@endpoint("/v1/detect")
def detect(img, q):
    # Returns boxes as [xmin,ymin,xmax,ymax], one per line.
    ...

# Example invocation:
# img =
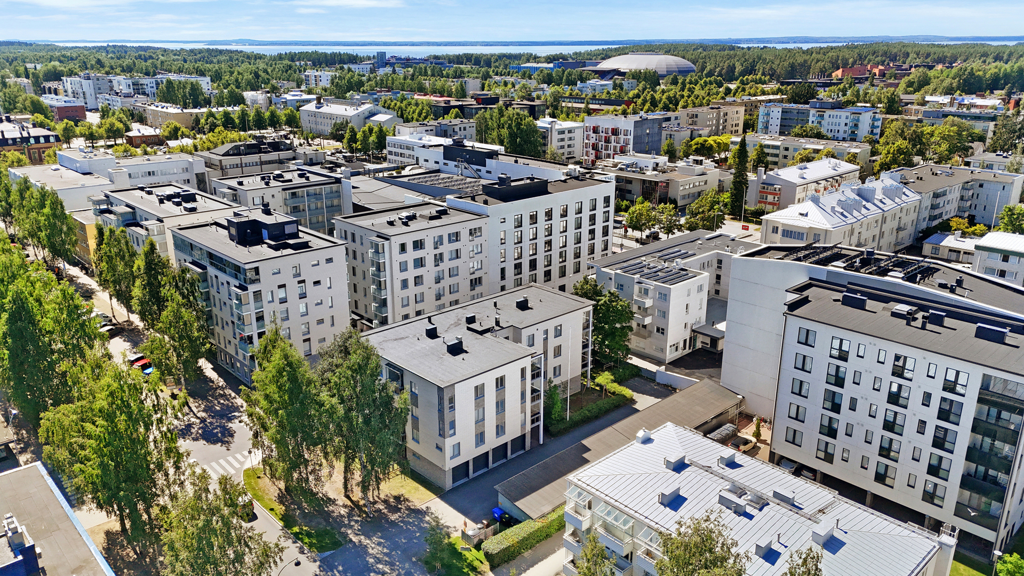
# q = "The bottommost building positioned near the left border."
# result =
[0,461,114,576]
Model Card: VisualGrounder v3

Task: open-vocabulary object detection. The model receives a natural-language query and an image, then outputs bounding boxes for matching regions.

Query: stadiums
[589,53,699,83]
